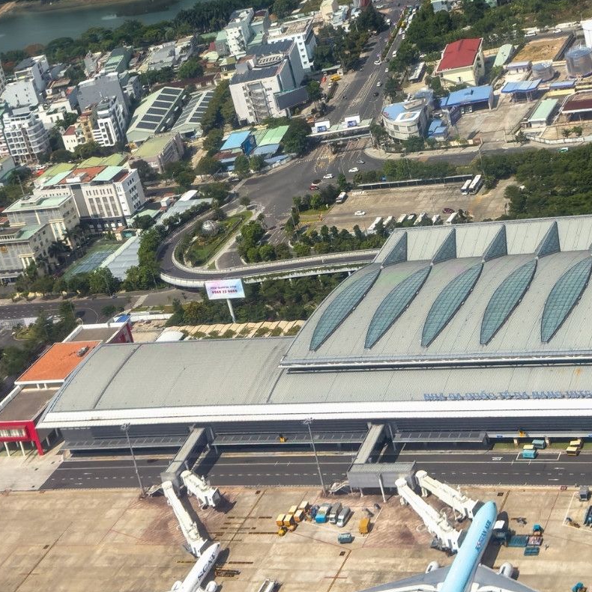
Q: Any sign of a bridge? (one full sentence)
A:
Yes, a bridge is visible in the scene.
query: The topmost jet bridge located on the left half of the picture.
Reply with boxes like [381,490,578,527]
[184,468,228,517]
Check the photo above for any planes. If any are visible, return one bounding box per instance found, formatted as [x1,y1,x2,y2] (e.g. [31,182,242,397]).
[340,501,549,592]
[144,545,221,592]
